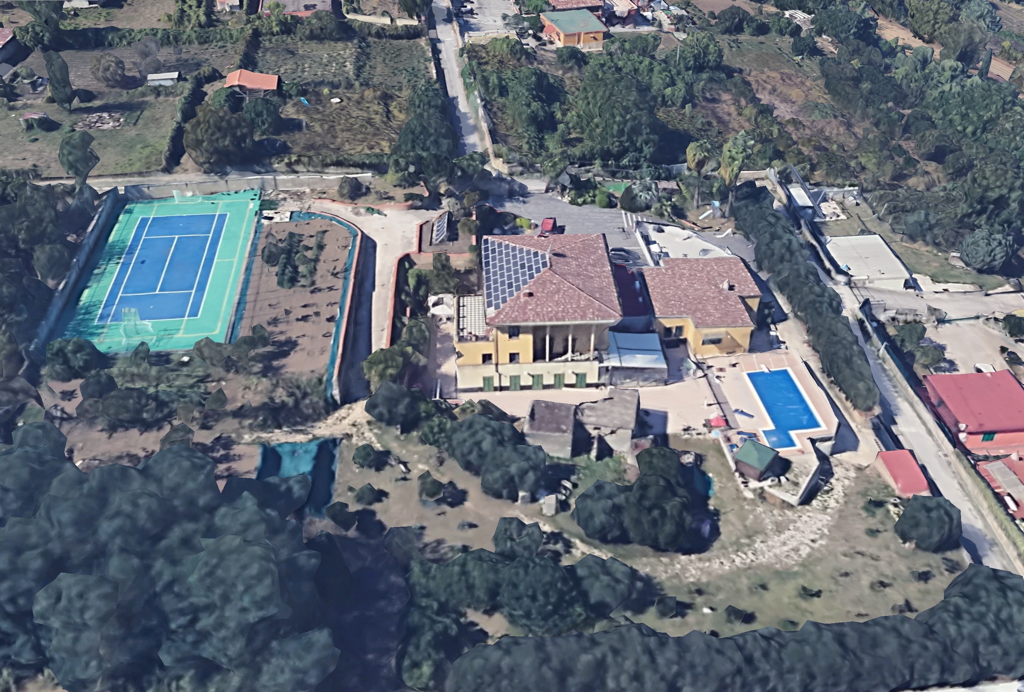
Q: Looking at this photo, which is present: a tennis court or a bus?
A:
tennis court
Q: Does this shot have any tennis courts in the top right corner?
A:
No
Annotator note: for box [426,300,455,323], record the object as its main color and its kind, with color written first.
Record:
white gazebo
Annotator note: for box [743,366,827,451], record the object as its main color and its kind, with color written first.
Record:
blue swimming pool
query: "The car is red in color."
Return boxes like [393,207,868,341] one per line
[540,213,557,234]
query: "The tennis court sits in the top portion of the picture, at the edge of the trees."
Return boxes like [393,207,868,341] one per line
[37,189,261,355]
